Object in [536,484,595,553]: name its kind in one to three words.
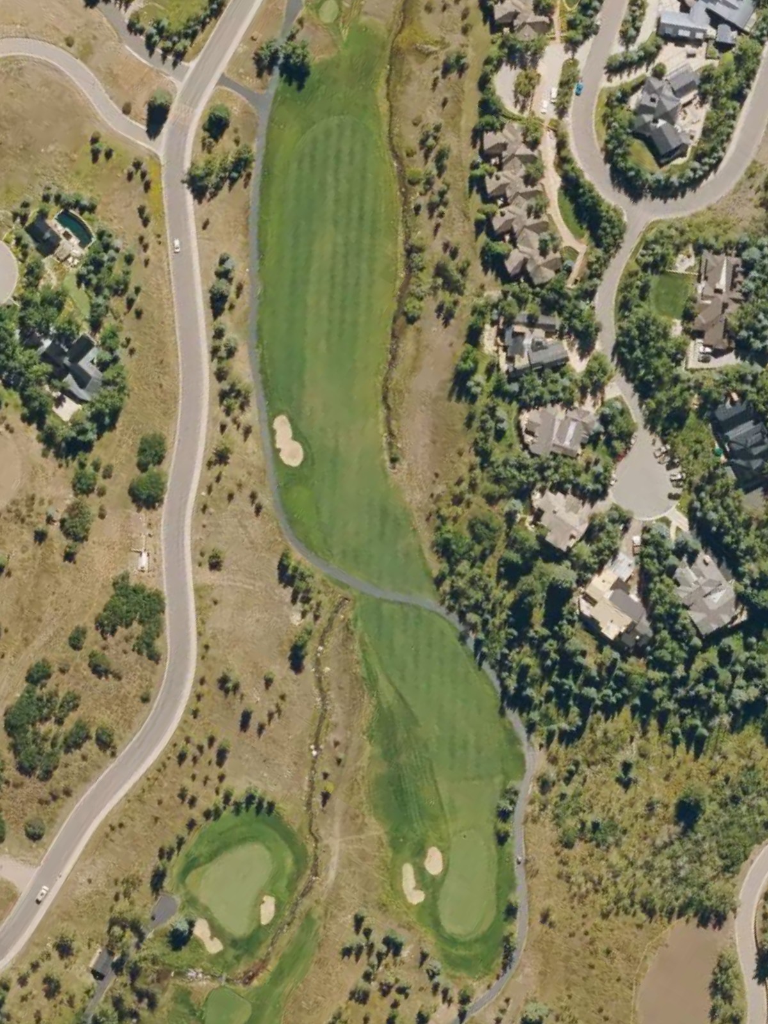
house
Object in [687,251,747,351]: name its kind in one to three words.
house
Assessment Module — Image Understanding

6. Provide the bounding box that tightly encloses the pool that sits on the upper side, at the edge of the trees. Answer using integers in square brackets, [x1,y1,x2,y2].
[54,209,94,248]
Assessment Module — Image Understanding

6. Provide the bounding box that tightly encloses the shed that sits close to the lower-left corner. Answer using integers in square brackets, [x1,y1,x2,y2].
[90,949,115,978]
